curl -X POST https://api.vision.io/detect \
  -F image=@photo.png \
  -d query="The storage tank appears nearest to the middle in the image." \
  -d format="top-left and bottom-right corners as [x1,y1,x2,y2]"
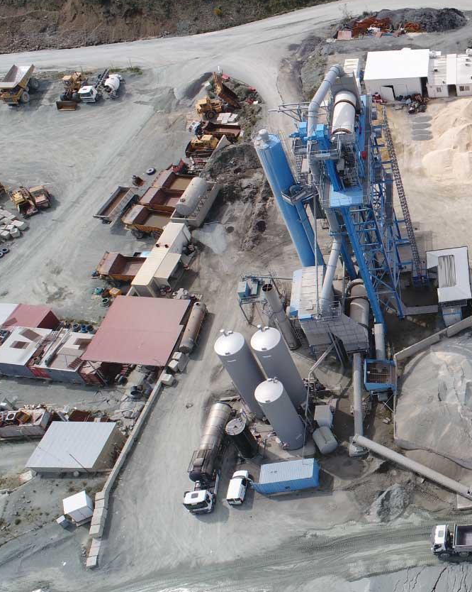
[178,302,209,354]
